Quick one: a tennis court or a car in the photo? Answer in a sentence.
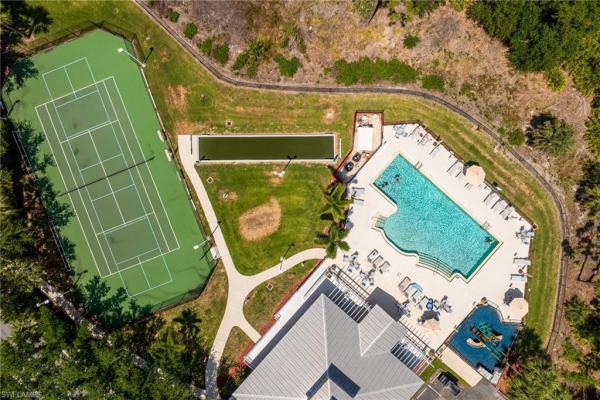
The one in the frame is a tennis court.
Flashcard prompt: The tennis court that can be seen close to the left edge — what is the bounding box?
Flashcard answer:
[3,29,213,325]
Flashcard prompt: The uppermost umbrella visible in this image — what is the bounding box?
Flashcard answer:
[463,165,485,186]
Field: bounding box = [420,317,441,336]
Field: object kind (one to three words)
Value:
umbrella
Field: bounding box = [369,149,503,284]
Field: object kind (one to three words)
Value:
swimming pool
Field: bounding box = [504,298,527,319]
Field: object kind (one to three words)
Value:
umbrella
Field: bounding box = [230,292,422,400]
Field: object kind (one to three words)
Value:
building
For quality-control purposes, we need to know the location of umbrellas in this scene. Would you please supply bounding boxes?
[463,165,485,186]
[504,298,527,319]
[420,317,441,336]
